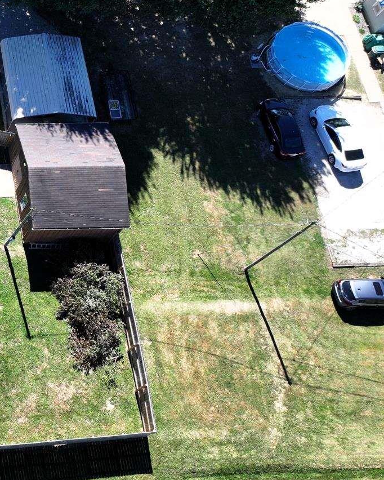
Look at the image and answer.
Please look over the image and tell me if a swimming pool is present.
Yes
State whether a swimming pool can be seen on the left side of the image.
No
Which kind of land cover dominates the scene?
grass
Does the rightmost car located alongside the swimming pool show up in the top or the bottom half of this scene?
top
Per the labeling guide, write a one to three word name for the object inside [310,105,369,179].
car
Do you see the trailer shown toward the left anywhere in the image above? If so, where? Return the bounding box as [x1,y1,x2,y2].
[102,57,144,117]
